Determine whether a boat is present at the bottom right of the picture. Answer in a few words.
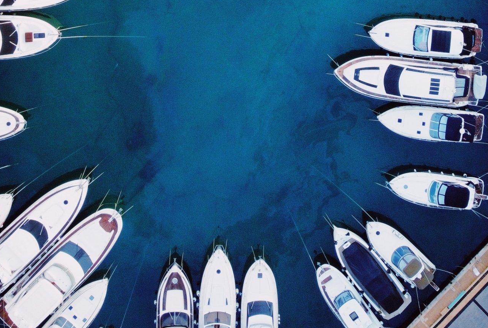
Yes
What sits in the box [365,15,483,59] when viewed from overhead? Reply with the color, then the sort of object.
white boat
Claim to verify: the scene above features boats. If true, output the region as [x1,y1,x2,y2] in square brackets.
[0,174,93,295]
[475,65,488,106]
[0,12,65,58]
[0,208,123,328]
[156,260,194,328]
[385,168,488,211]
[314,263,383,328]
[330,55,479,109]
[197,242,237,328]
[42,275,110,328]
[364,219,434,291]
[365,15,483,59]
[241,255,280,328]
[331,226,411,323]
[0,106,30,140]
[373,103,485,147]
[0,191,16,233]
